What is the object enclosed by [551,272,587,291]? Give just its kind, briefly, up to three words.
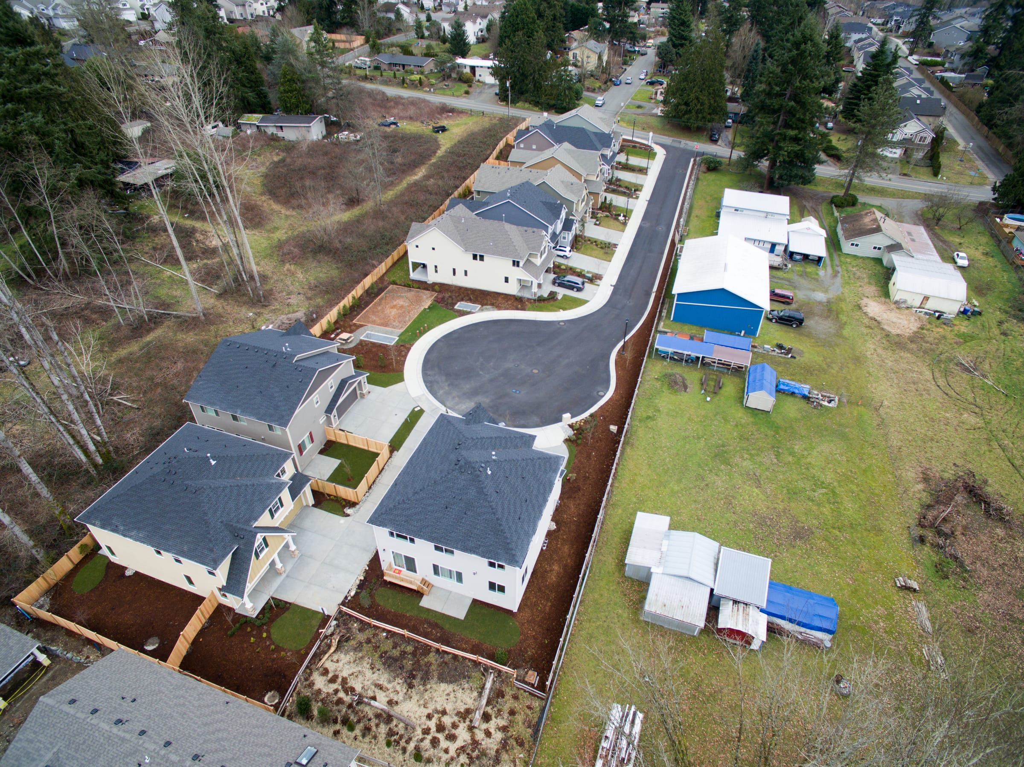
car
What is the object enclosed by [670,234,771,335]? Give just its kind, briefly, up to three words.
building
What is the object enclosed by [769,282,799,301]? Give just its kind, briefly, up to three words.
car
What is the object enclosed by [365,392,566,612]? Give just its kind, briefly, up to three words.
house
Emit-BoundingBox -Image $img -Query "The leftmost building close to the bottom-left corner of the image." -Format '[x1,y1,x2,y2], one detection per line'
[0,622,56,680]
